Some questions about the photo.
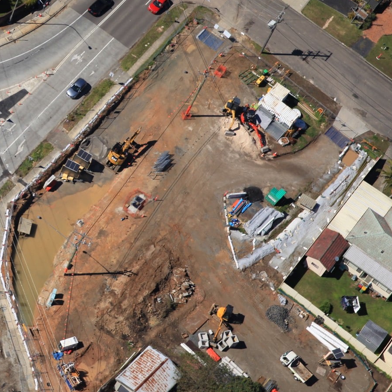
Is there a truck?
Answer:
Yes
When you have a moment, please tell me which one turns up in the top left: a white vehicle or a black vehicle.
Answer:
black vehicle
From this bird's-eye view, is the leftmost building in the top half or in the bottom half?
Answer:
bottom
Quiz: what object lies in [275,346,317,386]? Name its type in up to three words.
truck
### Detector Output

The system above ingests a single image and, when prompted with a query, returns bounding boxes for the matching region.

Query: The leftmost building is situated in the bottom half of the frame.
[111,347,181,392]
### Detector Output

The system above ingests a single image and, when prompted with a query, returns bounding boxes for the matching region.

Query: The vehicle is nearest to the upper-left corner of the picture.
[88,0,113,16]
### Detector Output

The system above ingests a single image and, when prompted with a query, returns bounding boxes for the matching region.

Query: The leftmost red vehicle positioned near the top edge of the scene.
[145,0,172,16]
